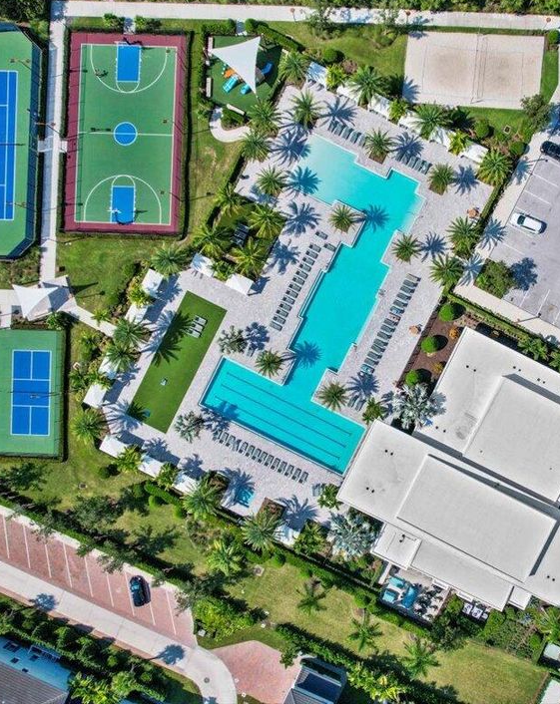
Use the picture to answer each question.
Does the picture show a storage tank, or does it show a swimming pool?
swimming pool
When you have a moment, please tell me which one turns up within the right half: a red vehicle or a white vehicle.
white vehicle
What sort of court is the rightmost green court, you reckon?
basketball court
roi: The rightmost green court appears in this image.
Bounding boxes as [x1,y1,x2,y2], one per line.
[65,33,186,234]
